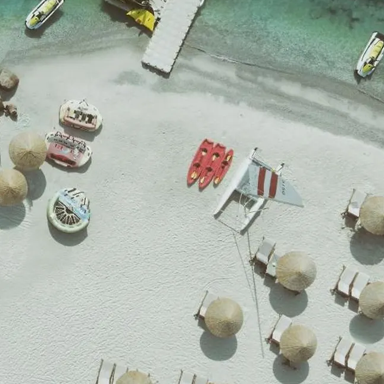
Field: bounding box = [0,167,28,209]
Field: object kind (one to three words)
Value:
umbrella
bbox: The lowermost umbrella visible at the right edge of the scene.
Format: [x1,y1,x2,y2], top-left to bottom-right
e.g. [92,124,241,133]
[353,349,384,384]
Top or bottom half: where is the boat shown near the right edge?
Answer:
top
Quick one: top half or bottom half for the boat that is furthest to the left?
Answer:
top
